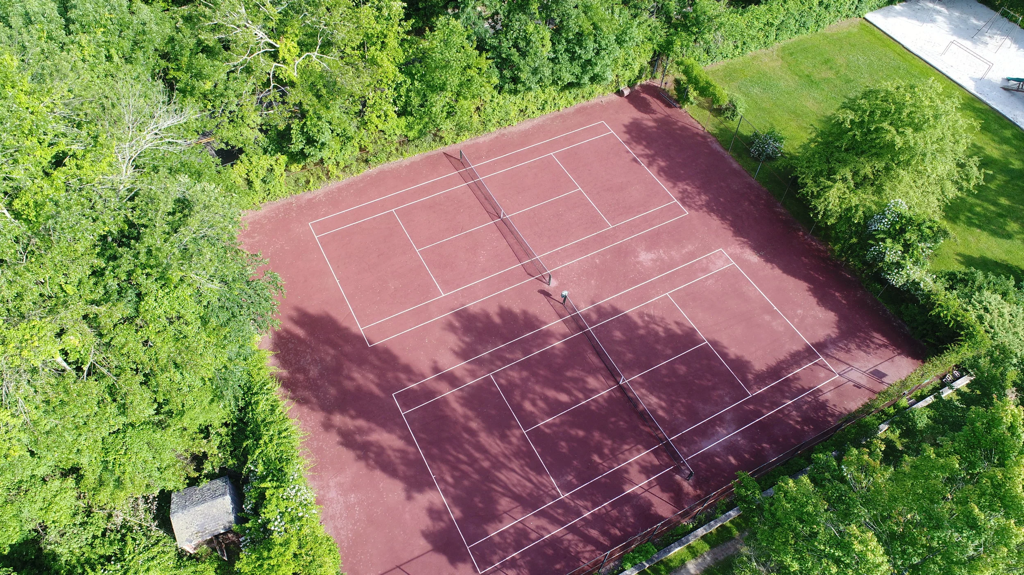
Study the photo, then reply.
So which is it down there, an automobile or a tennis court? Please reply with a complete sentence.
I can see a tennis court in this picture.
